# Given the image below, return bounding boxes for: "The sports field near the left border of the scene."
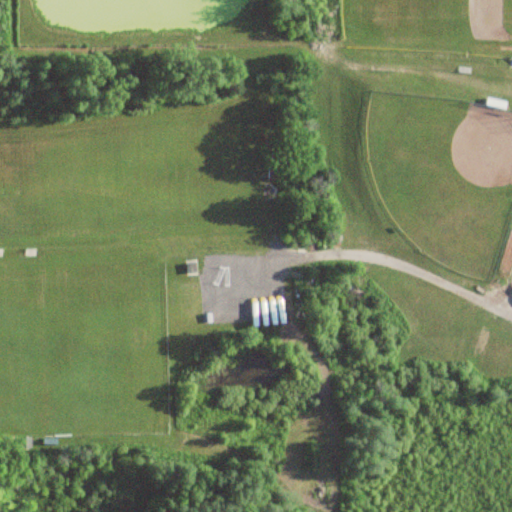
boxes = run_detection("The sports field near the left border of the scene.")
[0,246,168,436]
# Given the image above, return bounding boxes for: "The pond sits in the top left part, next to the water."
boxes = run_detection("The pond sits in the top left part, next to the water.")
[34,0,243,34]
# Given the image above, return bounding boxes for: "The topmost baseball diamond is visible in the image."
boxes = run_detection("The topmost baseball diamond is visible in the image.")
[344,0,512,60]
